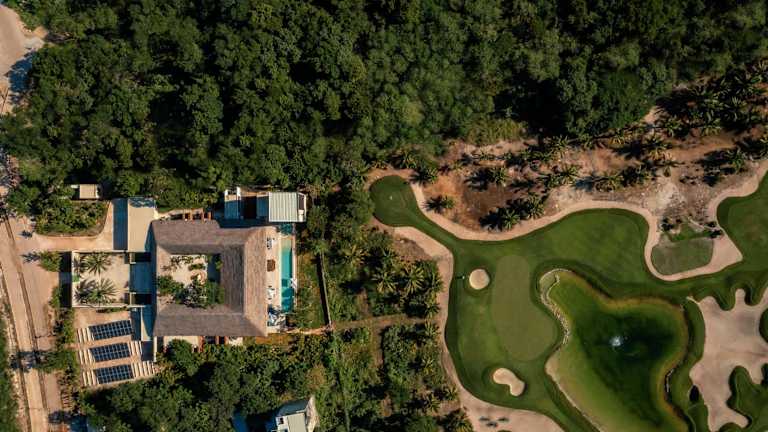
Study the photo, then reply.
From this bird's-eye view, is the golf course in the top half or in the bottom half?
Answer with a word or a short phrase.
bottom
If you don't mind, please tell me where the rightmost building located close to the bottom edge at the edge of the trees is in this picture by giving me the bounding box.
[276,401,314,432]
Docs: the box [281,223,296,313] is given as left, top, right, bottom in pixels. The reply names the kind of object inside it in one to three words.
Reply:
swimming pool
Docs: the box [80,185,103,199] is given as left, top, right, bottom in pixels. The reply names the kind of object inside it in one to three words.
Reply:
shed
